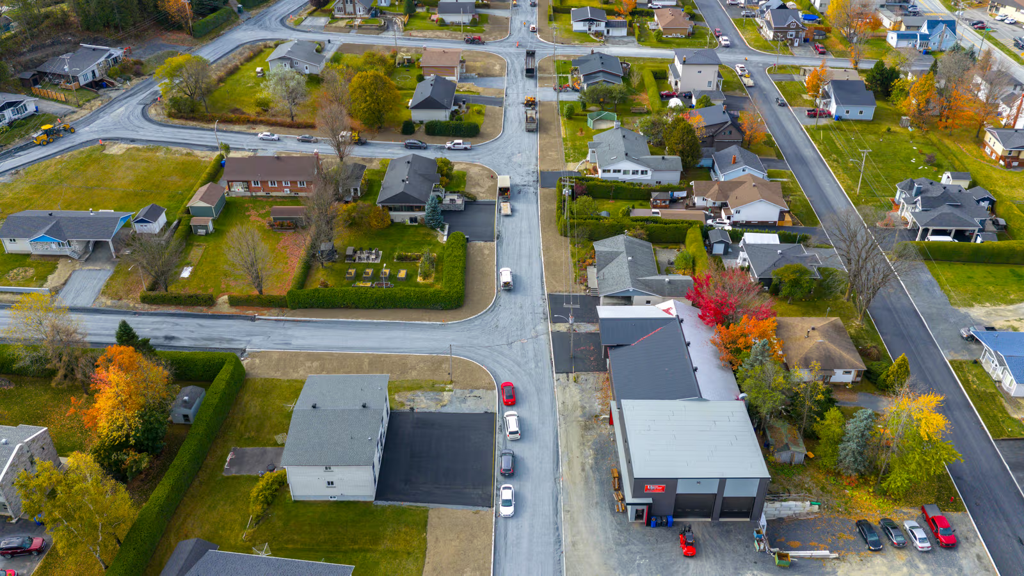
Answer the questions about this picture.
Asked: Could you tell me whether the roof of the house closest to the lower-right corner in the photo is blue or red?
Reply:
blue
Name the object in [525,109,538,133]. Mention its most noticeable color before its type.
gray vehicle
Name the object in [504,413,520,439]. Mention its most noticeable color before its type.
white car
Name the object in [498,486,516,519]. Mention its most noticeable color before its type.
white car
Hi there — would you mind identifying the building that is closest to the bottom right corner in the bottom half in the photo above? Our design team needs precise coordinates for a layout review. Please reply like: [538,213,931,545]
[967,329,1024,403]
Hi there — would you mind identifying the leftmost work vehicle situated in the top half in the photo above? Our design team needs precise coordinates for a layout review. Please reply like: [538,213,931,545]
[32,124,75,148]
